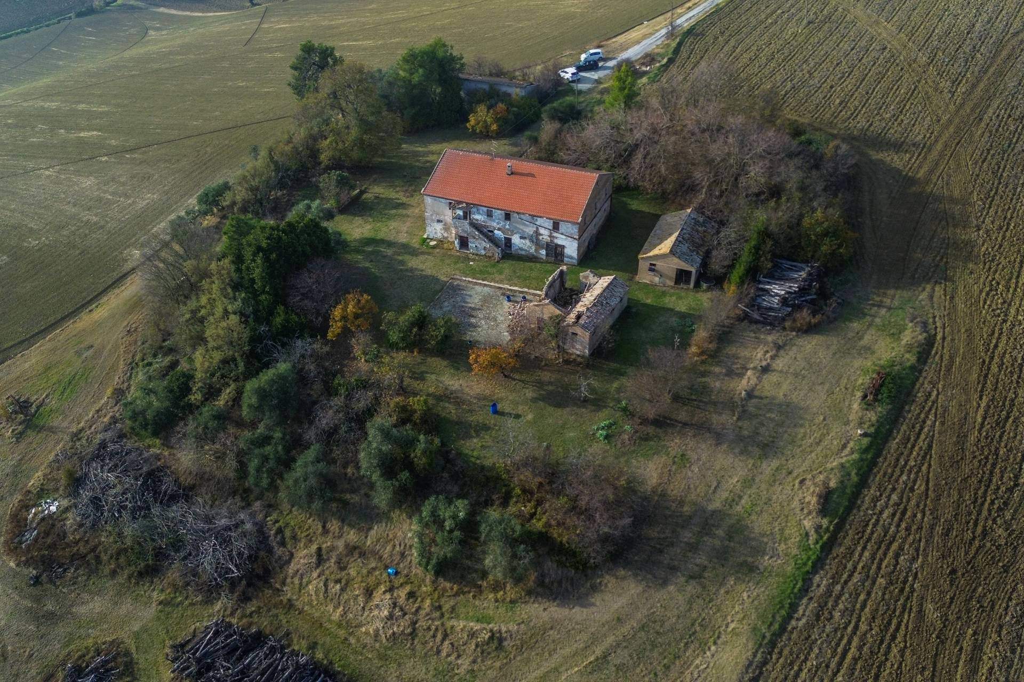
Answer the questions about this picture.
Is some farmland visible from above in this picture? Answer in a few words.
Yes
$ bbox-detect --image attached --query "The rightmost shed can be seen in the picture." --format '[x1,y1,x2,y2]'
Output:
[636,206,713,291]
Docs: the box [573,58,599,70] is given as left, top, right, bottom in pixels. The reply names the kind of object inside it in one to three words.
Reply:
vehicle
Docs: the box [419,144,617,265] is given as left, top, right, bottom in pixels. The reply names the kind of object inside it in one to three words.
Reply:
house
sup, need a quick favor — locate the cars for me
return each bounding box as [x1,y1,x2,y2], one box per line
[573,58,599,70]
[581,48,605,59]
[558,69,582,81]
